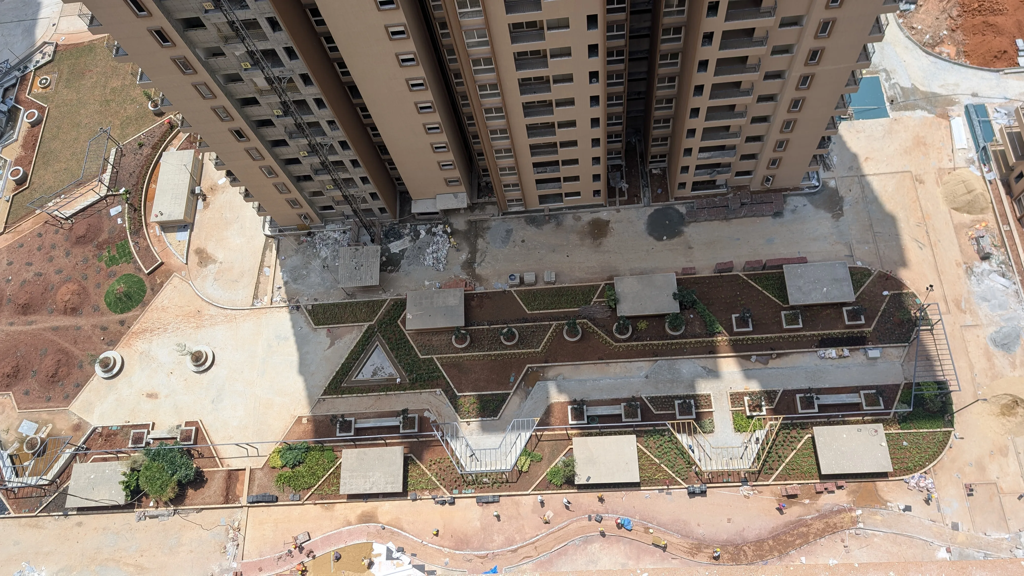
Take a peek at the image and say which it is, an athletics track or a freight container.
athletics track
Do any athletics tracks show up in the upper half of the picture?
No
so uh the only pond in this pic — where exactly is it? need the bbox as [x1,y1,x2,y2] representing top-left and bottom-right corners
[342,334,406,386]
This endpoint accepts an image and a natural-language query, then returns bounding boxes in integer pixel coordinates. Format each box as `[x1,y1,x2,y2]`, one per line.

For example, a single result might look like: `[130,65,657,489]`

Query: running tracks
[234,507,857,575]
